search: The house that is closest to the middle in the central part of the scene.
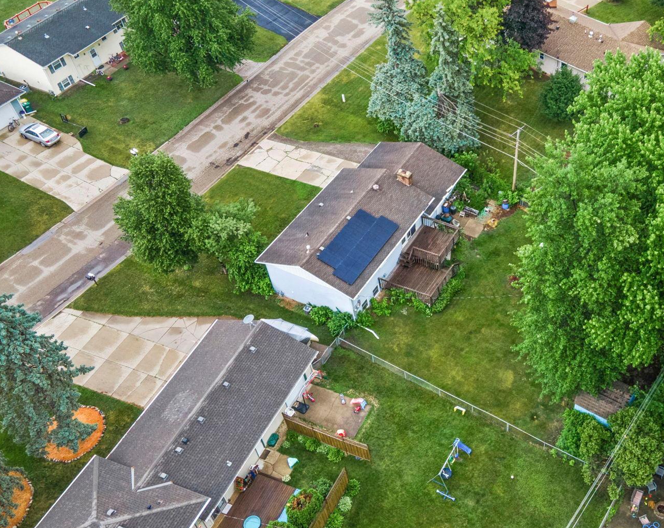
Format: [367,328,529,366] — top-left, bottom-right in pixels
[253,142,469,319]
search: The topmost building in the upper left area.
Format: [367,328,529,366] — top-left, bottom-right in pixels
[0,0,121,94]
